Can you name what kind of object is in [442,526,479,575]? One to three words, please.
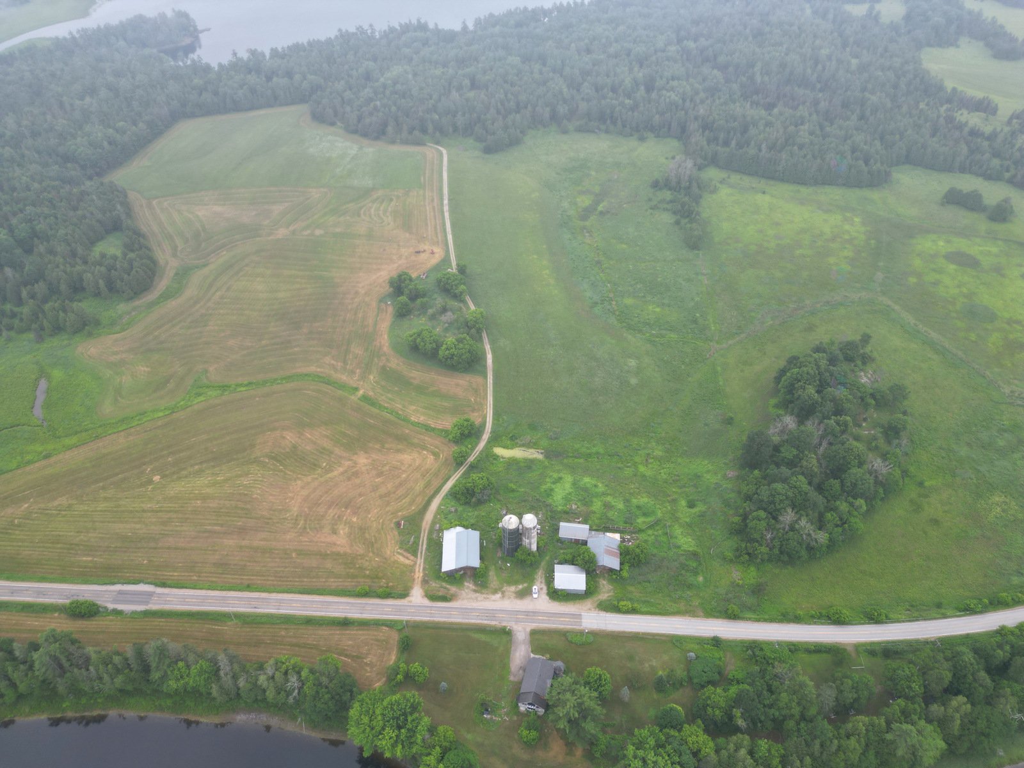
barn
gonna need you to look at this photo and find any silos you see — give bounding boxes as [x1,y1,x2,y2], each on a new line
[500,515,522,555]
[522,515,540,551]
